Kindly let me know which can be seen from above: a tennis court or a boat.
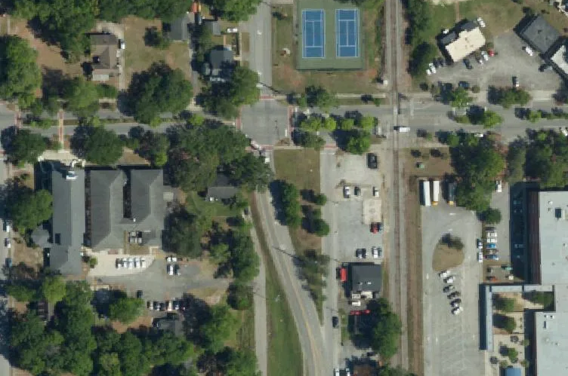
tennis court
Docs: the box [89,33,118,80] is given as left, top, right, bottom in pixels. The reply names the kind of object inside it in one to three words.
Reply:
house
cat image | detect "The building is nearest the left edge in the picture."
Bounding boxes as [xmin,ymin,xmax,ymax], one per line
[30,169,84,275]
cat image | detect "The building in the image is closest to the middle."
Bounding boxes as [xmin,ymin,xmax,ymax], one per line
[207,185,241,199]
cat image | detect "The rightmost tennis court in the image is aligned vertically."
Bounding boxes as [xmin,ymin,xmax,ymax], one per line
[337,8,359,57]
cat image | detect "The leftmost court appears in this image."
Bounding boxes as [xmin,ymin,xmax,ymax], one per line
[302,8,326,57]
